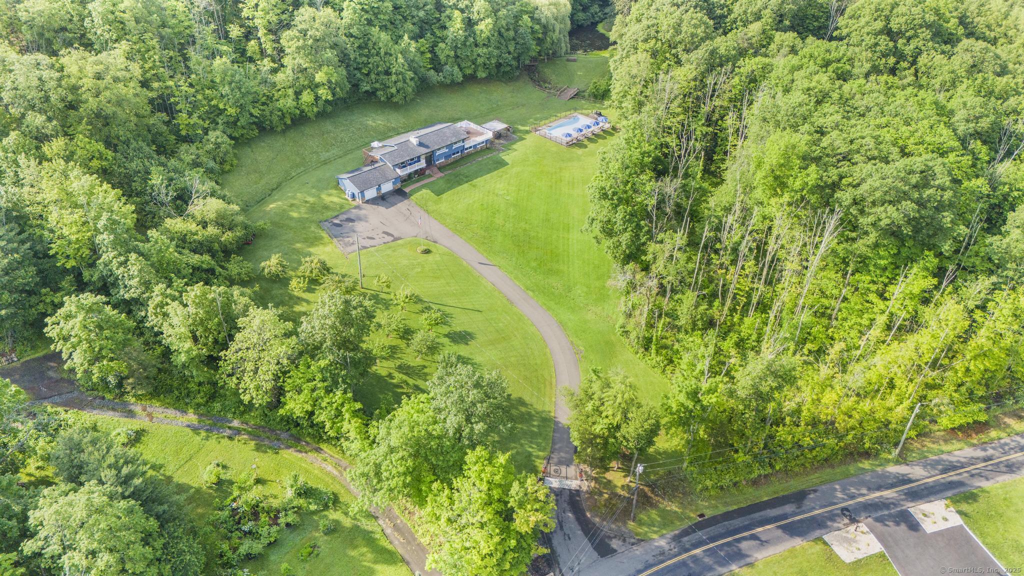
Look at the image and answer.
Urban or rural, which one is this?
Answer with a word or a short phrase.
rural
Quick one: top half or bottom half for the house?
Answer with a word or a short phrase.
top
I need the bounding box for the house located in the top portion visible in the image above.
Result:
[333,120,493,203]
